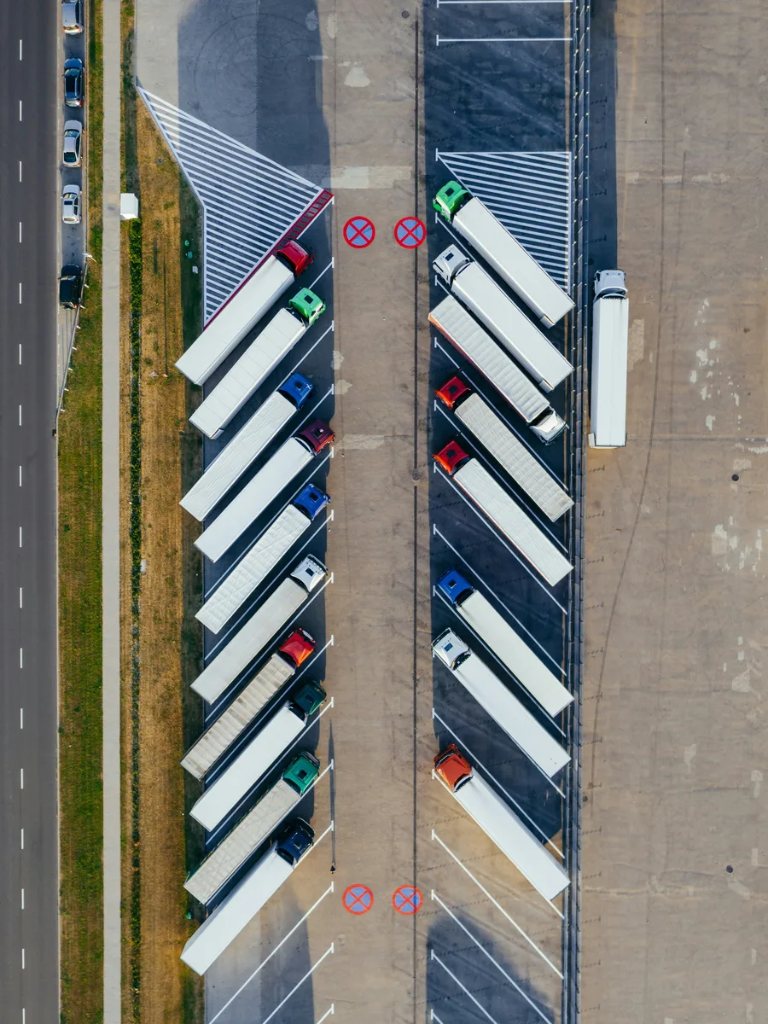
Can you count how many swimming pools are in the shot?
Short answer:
zero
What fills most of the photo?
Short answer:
paved ground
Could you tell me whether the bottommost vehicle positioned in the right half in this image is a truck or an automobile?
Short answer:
truck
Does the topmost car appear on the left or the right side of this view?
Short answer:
left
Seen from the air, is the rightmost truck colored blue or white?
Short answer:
white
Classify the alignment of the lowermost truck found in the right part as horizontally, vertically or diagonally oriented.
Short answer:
diagonally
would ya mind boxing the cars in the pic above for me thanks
[61,59,85,109]
[60,184,83,226]
[63,0,84,36]
[59,263,84,312]
[61,120,85,169]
